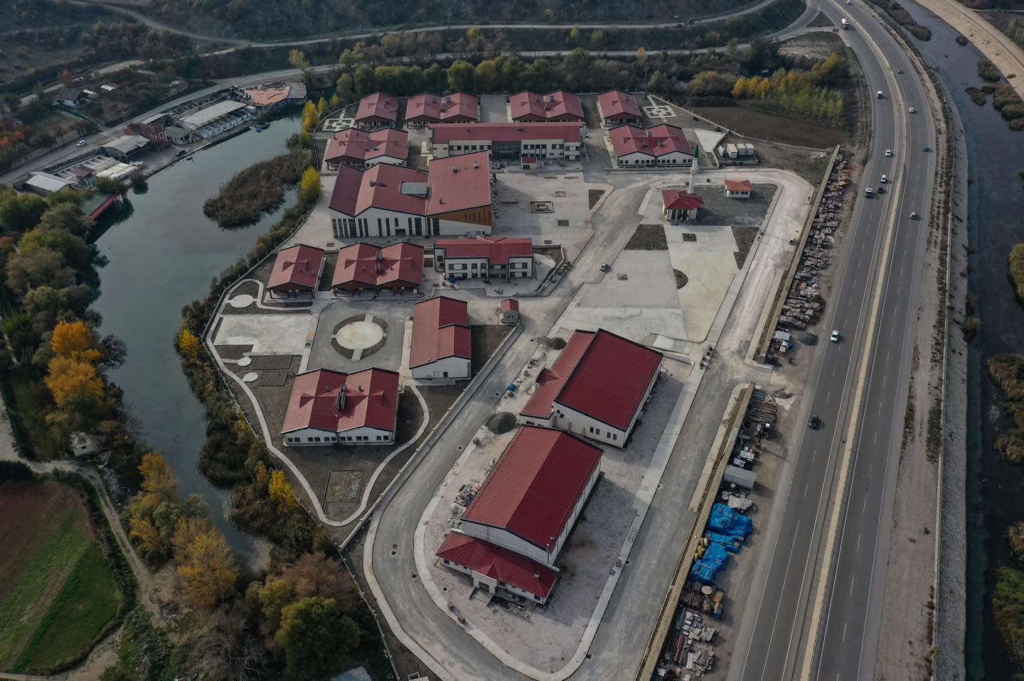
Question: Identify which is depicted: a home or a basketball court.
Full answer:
The image shows a home.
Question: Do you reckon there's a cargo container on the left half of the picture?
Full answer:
No, no cargo container is visible on the left half of the picture.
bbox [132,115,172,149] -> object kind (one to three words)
house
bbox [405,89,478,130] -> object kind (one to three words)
building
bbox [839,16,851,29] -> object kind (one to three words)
vehicle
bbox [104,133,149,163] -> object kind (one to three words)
shed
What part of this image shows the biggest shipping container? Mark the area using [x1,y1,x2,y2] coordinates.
[723,466,759,491]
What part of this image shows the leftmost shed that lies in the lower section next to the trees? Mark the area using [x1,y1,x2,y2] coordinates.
[72,432,99,462]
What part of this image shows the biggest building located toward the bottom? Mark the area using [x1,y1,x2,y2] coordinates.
[438,423,602,616]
